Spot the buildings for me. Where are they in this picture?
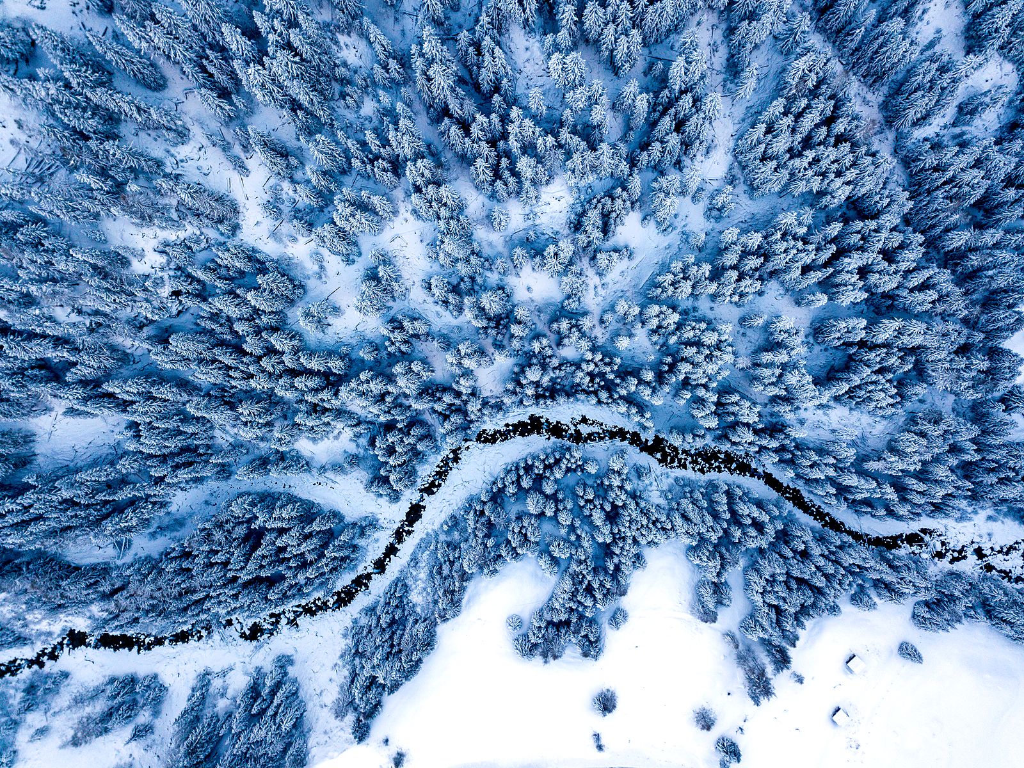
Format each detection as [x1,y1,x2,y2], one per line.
[829,705,851,727]
[844,652,867,675]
